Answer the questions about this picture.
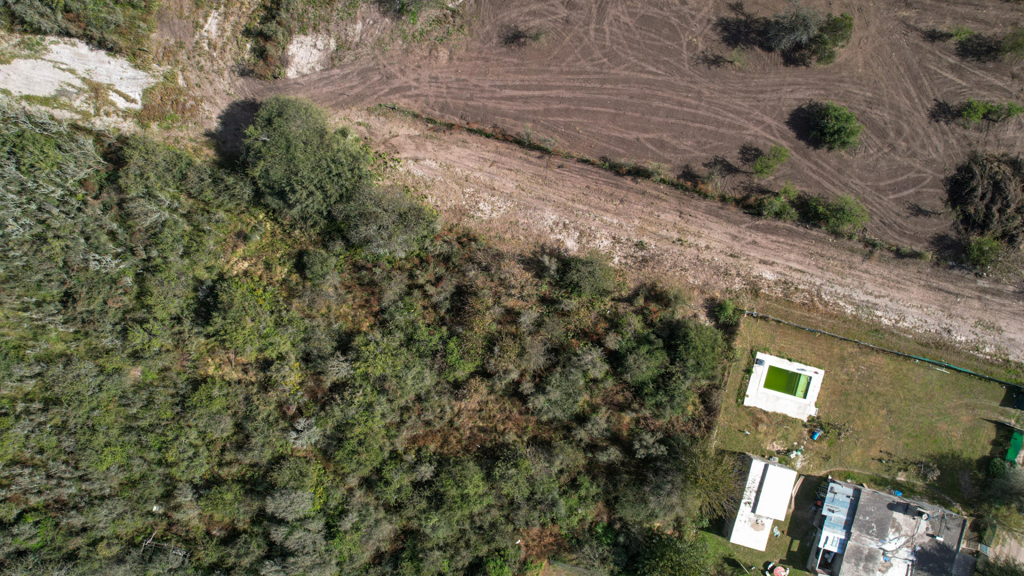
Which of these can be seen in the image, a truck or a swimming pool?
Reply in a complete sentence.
There is a swimming pool in the scene.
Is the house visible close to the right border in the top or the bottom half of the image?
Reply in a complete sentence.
It is in the bottom half that the house visible close to the right border appears.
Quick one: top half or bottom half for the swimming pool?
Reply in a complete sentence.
You can find the swimming pool in the bottom half.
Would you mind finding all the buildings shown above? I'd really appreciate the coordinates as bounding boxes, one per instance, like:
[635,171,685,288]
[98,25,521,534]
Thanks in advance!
[805,479,977,576]
[724,455,797,551]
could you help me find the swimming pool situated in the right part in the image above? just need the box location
[744,352,824,422]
